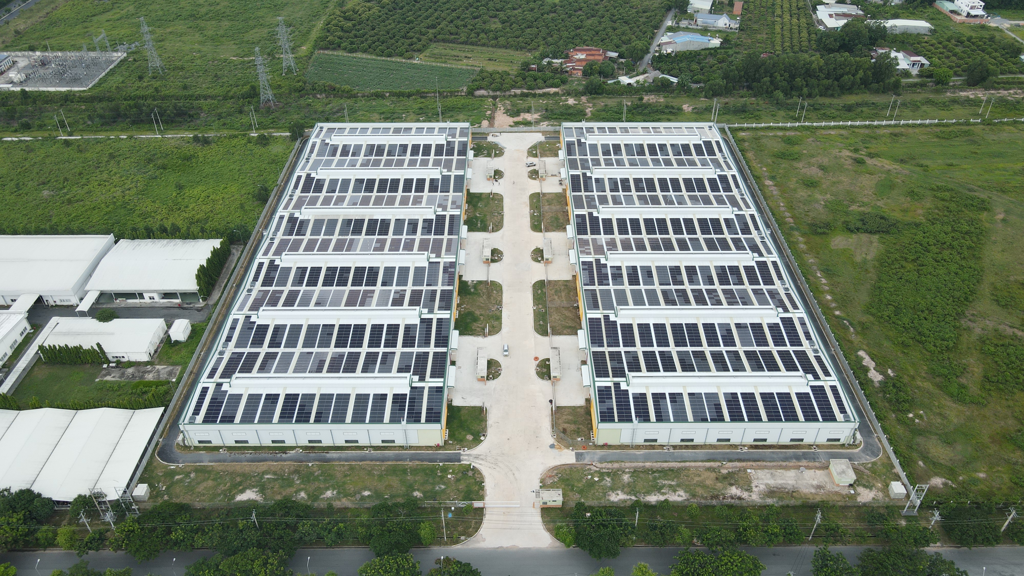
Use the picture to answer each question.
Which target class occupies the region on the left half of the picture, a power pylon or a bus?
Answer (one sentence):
It is a power pylon that can be seen on the left half of the picture.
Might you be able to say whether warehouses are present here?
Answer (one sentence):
Yes, a warehouse is visible in the scene.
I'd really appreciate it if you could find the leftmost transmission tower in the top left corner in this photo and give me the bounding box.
[137,18,167,77]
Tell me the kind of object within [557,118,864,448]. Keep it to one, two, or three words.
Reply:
warehouse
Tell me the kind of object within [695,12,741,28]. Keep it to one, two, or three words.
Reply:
house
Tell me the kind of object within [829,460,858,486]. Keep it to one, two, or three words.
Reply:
building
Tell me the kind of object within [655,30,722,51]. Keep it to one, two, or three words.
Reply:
house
